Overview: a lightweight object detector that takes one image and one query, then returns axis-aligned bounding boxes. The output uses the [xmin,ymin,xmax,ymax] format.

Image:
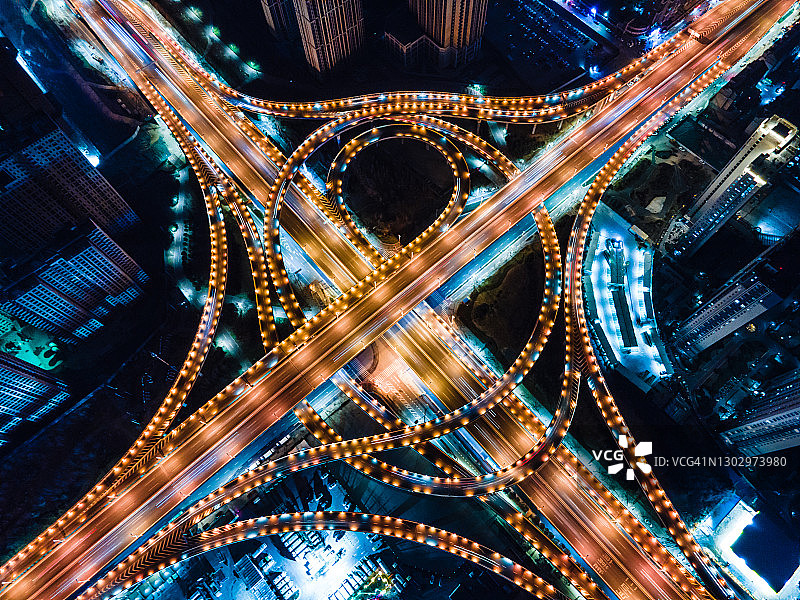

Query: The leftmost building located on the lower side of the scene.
[0,338,70,438]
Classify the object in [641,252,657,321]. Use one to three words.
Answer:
shed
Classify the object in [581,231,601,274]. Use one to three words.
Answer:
shed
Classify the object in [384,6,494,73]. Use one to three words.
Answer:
building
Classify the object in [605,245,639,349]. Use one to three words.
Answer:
building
